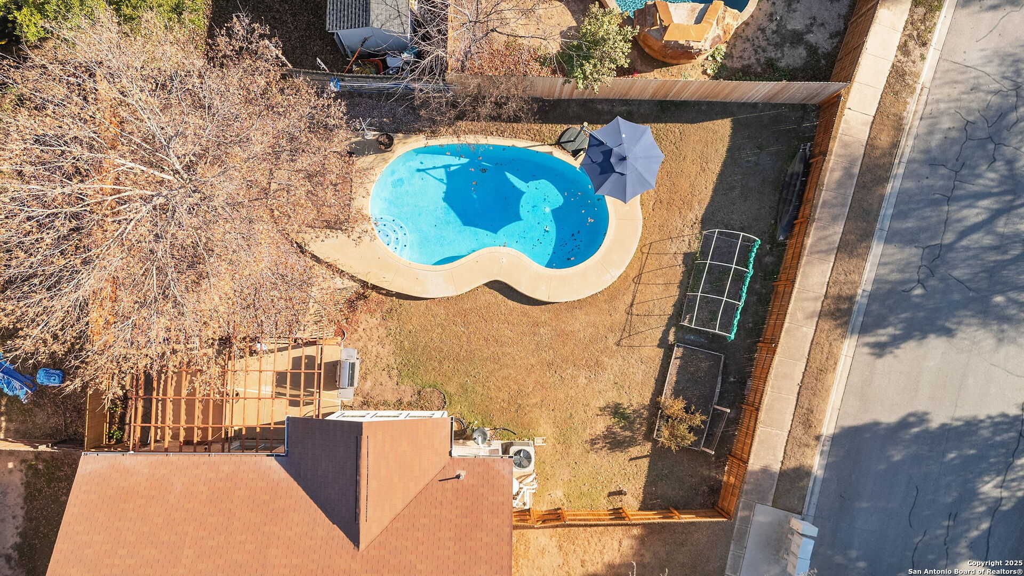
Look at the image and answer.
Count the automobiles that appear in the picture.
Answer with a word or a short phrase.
zero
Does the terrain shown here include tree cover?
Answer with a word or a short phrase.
Yes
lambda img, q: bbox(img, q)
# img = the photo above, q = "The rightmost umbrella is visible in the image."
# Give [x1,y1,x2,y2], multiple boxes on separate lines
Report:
[558,116,664,203]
